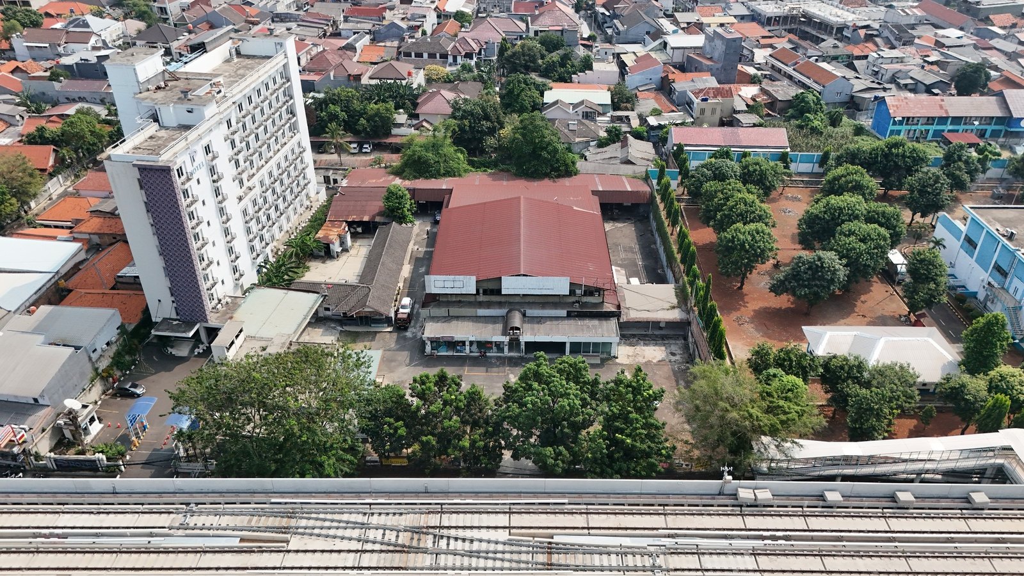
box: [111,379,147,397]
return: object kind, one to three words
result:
car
